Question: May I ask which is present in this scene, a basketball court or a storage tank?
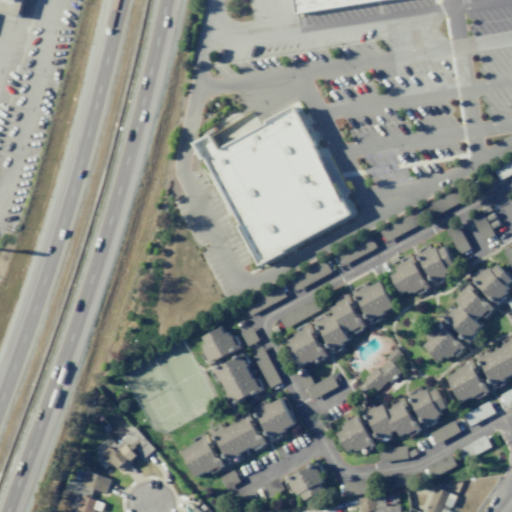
basketball court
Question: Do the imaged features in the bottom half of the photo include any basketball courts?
Yes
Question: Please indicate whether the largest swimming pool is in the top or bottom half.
bottom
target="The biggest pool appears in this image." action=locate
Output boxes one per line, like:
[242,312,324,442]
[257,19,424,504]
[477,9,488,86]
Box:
[360,338,382,362]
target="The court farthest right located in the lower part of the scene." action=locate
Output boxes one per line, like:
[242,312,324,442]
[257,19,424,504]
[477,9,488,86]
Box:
[161,347,217,422]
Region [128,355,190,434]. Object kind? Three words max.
tennis court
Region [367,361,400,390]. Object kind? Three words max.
building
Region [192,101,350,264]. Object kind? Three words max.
building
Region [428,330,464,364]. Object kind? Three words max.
house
